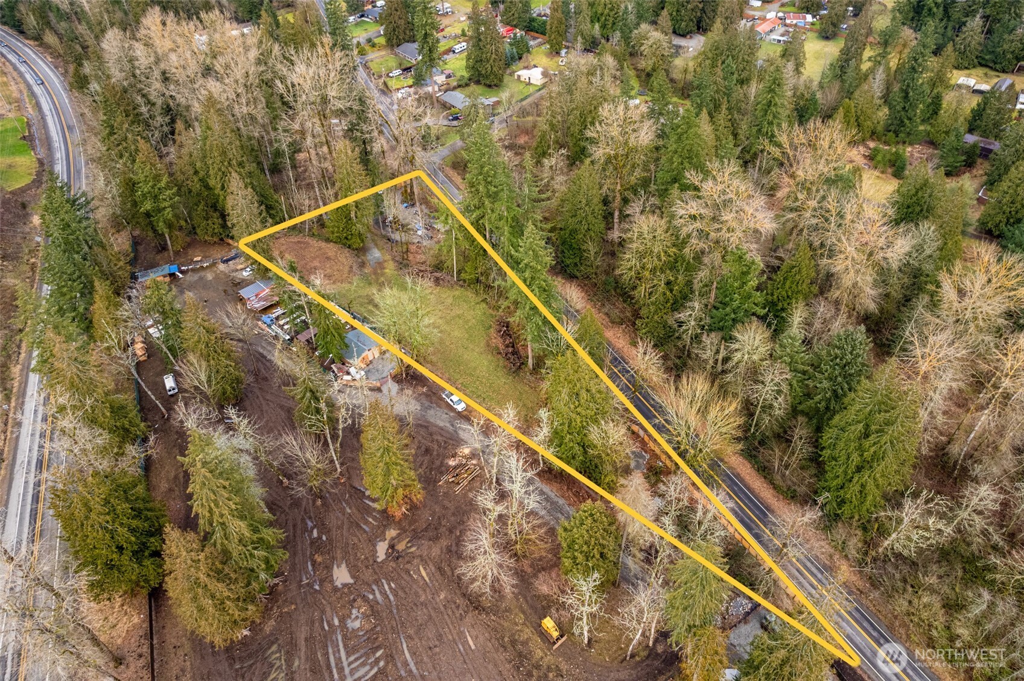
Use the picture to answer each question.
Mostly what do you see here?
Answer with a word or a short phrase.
trees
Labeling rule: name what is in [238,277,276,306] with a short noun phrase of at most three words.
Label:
shed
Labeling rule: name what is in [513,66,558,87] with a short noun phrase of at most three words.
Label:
shed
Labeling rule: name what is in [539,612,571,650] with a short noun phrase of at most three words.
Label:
work vehicle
